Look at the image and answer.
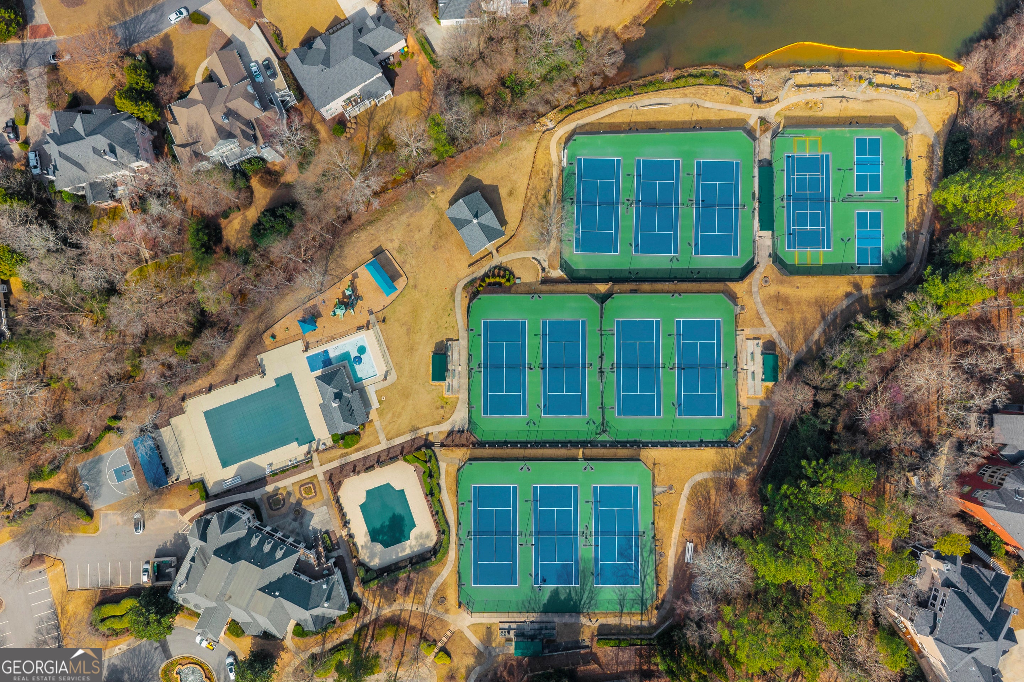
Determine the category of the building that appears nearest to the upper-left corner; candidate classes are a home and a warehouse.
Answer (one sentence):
The building that appears nearest to the upper-left corner appears to be a home.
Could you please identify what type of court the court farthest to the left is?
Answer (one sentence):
In the photo, the court farthest to the left shows up as a basketball court.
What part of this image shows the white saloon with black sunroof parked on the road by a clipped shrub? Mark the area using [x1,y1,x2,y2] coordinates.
[167,5,187,21]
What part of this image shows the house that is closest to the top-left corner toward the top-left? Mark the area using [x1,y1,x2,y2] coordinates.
[41,109,155,206]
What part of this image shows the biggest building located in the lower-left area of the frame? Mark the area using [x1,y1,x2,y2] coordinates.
[169,504,352,647]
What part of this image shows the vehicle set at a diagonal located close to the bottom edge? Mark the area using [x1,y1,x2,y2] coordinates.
[194,636,218,655]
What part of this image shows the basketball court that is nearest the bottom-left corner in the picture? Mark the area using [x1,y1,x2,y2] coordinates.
[77,447,140,510]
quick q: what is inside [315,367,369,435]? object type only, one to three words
building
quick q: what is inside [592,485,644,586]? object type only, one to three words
tennis court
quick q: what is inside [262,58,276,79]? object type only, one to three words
car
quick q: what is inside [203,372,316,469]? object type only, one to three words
swimming pool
